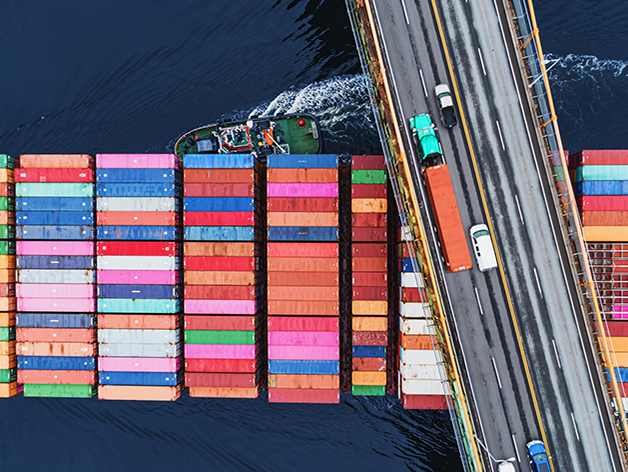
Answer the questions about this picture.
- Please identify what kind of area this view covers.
port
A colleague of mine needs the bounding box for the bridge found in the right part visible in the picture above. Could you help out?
[344,0,628,472]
